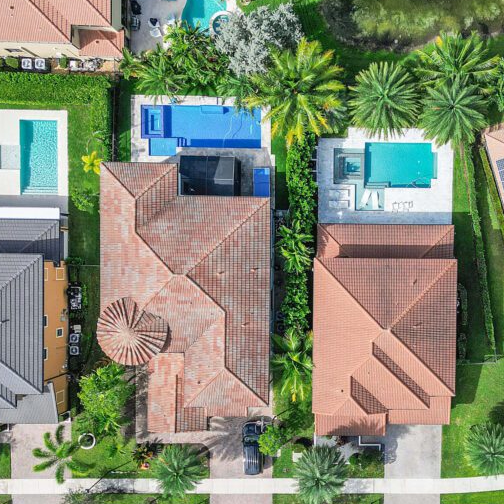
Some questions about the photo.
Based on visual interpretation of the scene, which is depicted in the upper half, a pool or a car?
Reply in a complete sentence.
Looking in the upper half, you will find a pool.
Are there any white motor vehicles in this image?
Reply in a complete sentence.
No, no white motor vehicle is visible in the view.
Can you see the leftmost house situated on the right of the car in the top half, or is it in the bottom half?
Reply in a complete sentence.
The leftmost house situated on the right of the car is in the bottom half of the image.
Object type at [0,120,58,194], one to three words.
swimming pool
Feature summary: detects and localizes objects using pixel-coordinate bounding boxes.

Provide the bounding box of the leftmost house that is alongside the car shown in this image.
[96,161,274,433]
